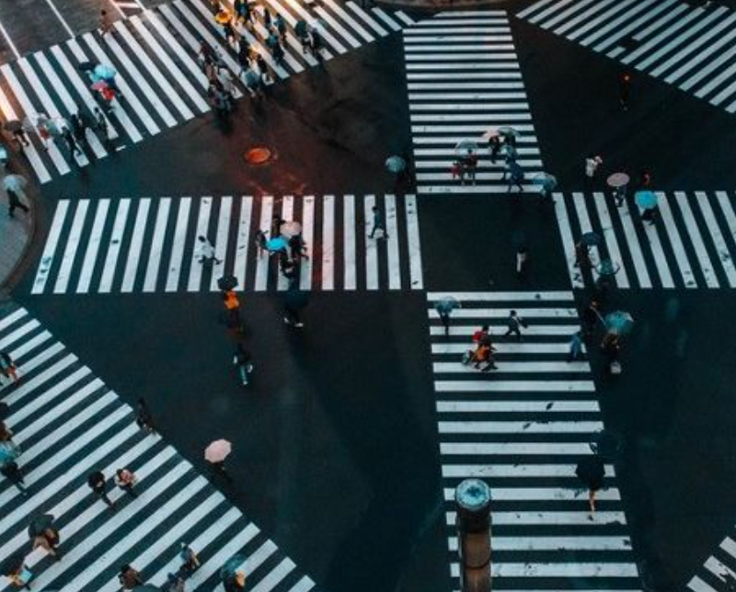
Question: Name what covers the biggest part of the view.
paved ground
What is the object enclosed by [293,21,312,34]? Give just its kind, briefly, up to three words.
umbrella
